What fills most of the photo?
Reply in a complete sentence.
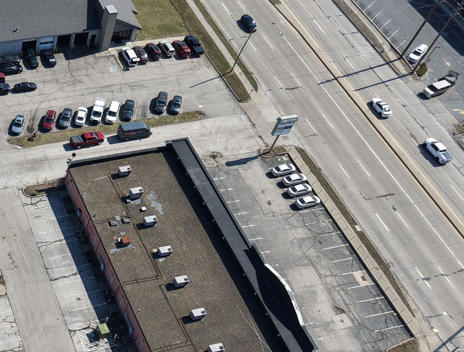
For the most part, this view shows paved ground.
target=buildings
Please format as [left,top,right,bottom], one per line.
[0,0,146,55]
[65,134,319,352]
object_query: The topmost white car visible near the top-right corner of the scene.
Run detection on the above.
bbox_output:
[408,43,429,61]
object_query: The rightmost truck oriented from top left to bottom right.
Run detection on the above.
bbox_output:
[422,139,456,164]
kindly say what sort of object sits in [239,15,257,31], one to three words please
car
